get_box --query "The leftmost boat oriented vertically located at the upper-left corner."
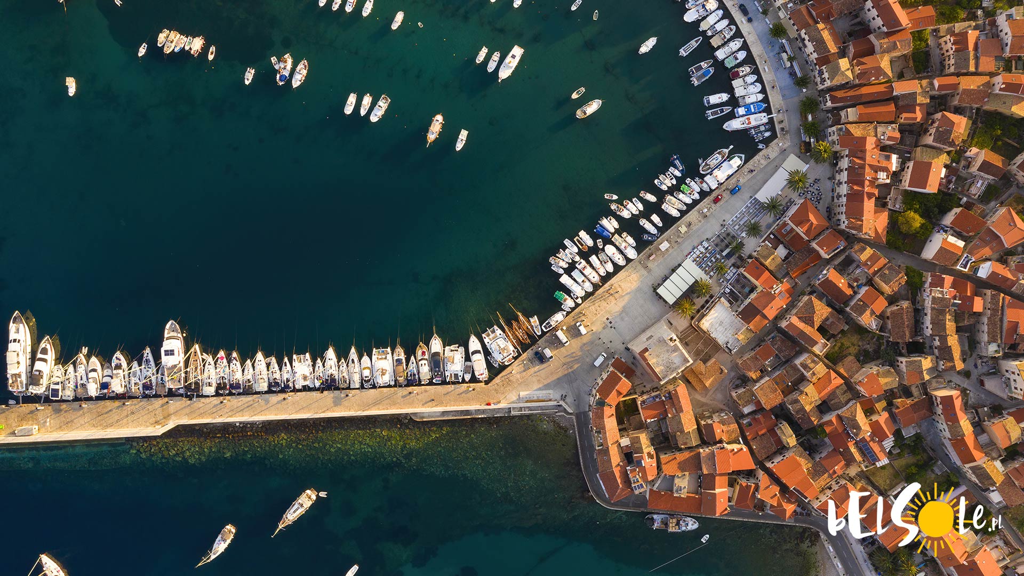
[65,76,77,100]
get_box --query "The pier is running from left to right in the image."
[0,384,561,443]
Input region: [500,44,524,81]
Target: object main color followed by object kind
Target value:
white boat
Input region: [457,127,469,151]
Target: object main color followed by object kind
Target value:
white boat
